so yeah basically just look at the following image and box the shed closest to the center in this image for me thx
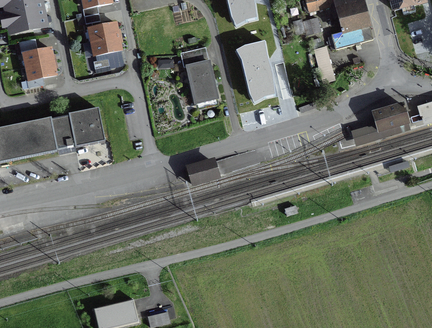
[186,157,221,184]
